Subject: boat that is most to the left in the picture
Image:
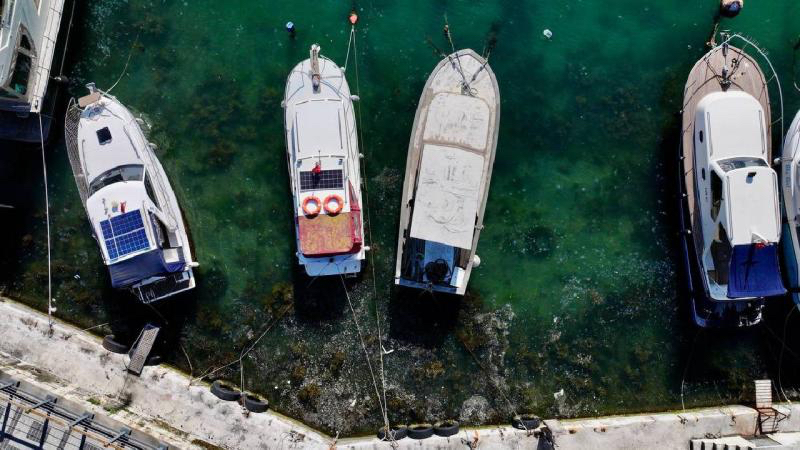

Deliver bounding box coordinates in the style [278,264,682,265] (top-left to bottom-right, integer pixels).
[0,0,97,141]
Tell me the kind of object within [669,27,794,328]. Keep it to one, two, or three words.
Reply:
boat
